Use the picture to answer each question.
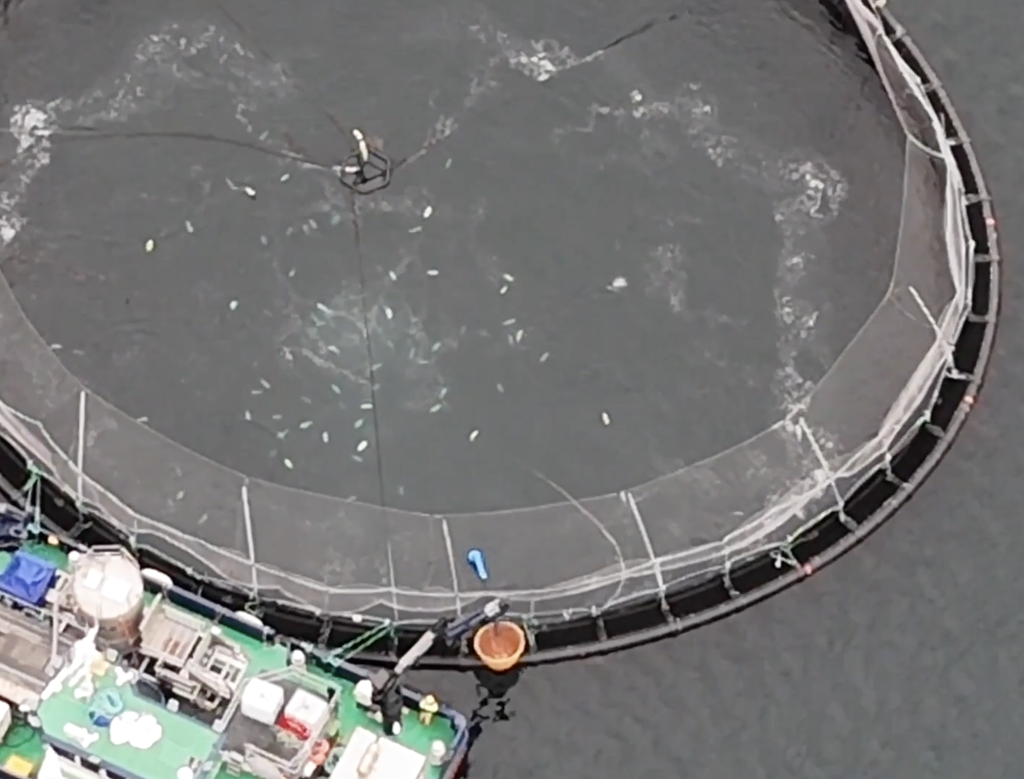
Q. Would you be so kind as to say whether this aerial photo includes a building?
No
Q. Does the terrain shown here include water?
Yes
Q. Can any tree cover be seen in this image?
No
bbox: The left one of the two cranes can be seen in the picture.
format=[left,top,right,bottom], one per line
[42,622,105,699]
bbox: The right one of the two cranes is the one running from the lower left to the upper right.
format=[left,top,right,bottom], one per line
[355,595,511,739]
